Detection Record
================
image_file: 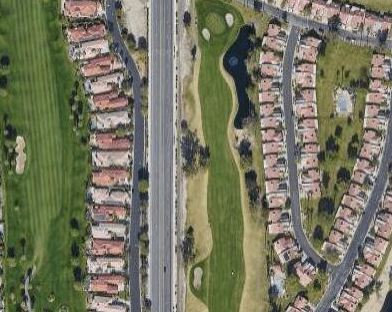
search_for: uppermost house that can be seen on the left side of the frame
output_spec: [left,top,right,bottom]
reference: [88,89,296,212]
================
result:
[64,0,105,16]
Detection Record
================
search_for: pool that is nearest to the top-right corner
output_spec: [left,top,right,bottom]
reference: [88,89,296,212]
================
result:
[335,91,353,115]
